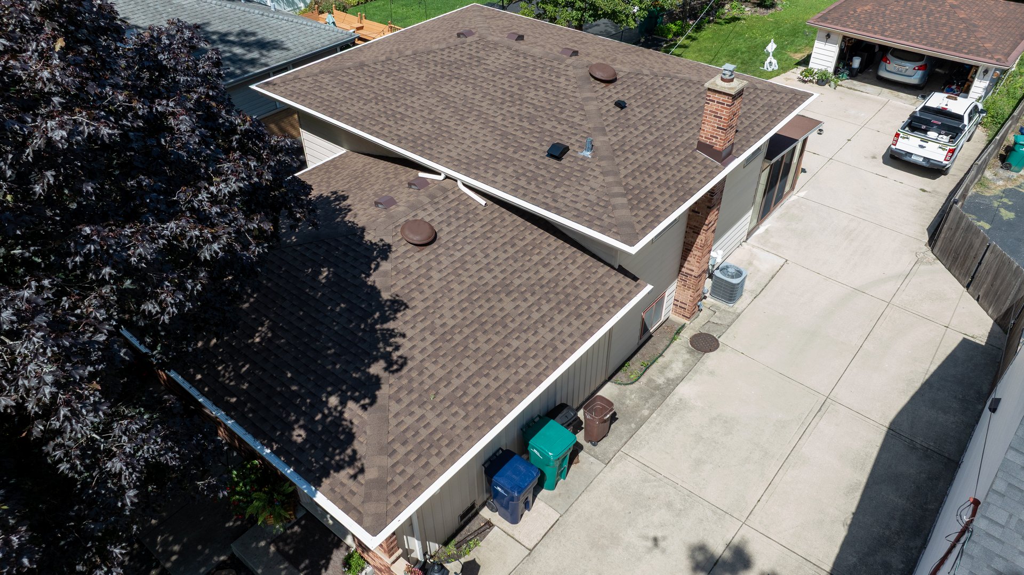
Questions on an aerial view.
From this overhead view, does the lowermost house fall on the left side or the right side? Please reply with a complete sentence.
It is on the right.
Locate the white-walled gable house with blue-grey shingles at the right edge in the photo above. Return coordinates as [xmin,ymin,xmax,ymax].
[914,343,1024,575]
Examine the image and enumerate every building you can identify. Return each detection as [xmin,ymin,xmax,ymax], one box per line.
[806,0,1024,111]
[914,343,1024,575]
[101,4,827,575]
